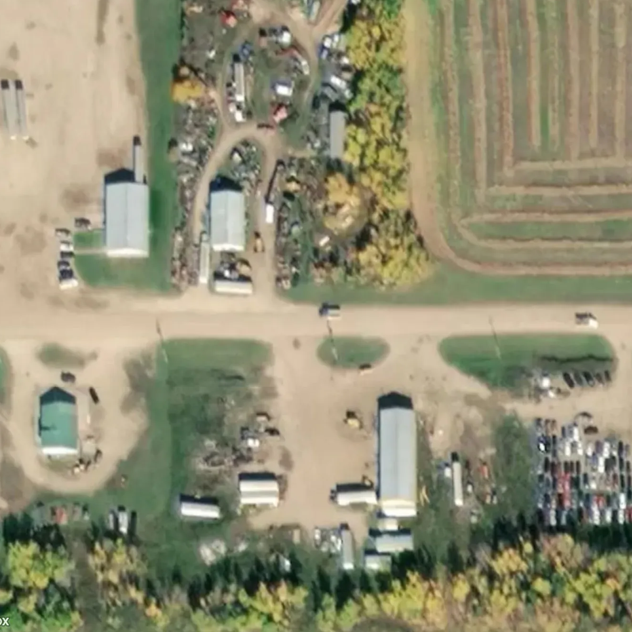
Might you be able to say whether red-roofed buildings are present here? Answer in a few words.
No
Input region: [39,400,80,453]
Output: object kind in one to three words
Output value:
shed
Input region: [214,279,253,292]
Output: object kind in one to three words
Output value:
building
